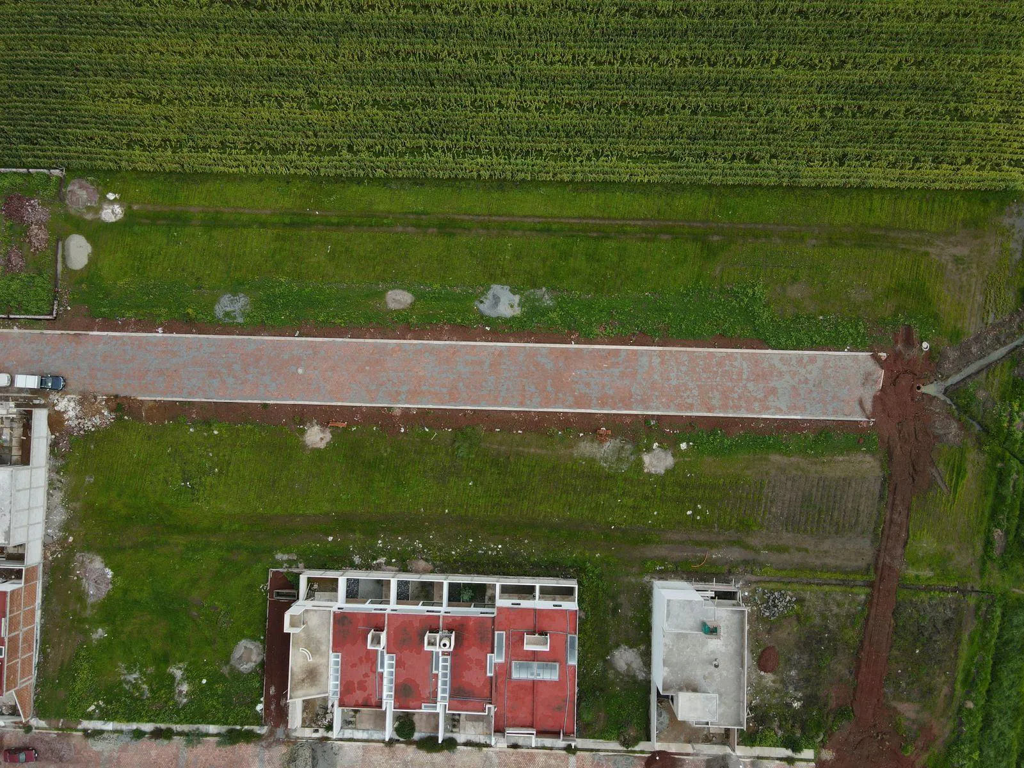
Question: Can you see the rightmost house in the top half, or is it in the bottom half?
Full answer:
You can find the rightmost house in the bottom half.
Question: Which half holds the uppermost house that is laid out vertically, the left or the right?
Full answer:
The uppermost house that is laid out vertically is on the left side of the image.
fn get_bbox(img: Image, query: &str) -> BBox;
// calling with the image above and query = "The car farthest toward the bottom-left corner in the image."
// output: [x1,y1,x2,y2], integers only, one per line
[2,746,39,766]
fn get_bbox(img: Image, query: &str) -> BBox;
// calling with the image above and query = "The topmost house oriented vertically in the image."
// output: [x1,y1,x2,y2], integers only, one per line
[0,407,49,566]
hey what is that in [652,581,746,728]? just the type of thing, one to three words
house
